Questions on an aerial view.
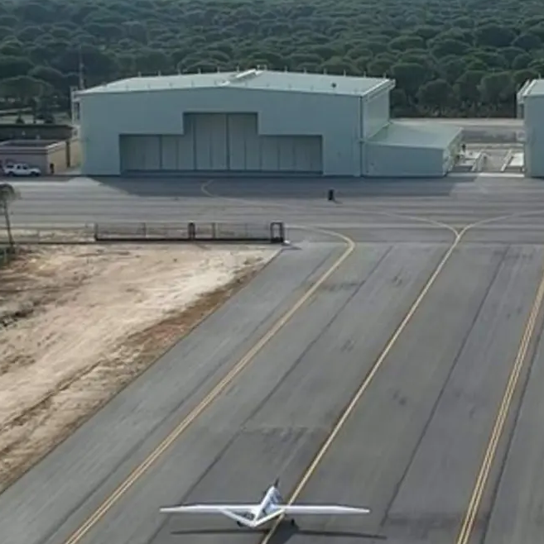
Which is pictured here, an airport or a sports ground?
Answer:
airport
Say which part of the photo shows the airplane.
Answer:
bottom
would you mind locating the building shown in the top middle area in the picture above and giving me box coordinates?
[70,65,464,177]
